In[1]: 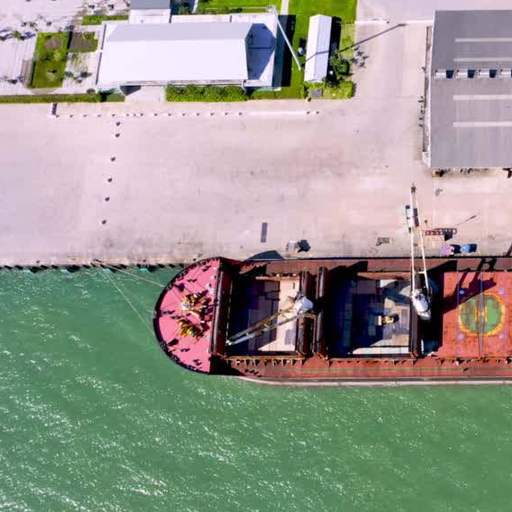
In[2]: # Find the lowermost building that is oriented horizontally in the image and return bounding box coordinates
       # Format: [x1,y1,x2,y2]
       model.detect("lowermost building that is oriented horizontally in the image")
[101,13,281,102]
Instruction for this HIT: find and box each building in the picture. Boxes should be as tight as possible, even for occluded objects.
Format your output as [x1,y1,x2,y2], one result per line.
[305,13,332,86]
[423,9,512,188]
[101,13,281,102]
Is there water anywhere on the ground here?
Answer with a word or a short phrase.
Yes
